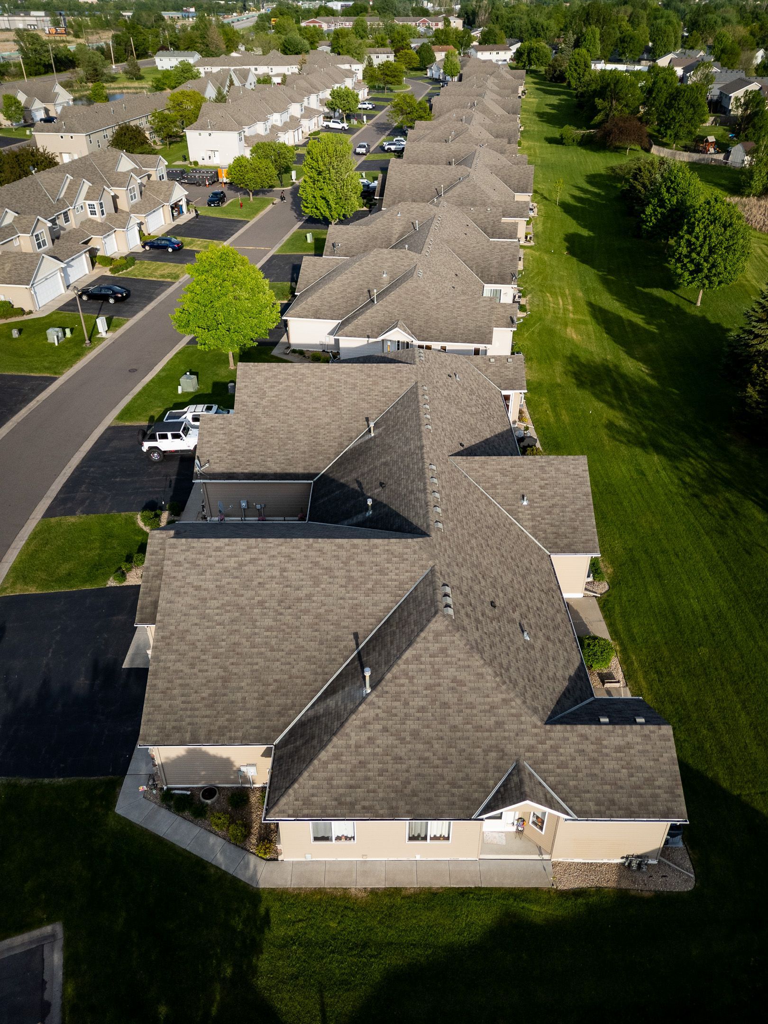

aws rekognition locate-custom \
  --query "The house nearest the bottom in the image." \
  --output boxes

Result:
[134,342,694,881]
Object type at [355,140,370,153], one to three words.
vehicle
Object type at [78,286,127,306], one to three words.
car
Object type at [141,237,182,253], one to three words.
car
